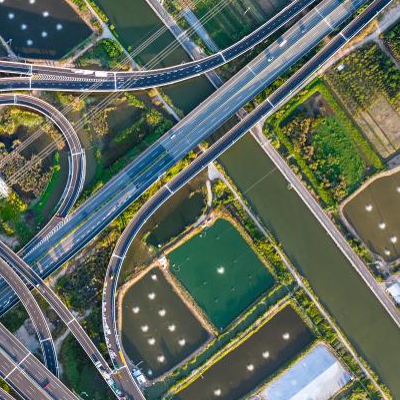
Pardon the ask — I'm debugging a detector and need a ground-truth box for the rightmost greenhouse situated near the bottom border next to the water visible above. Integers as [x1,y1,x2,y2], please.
[261,344,351,400]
